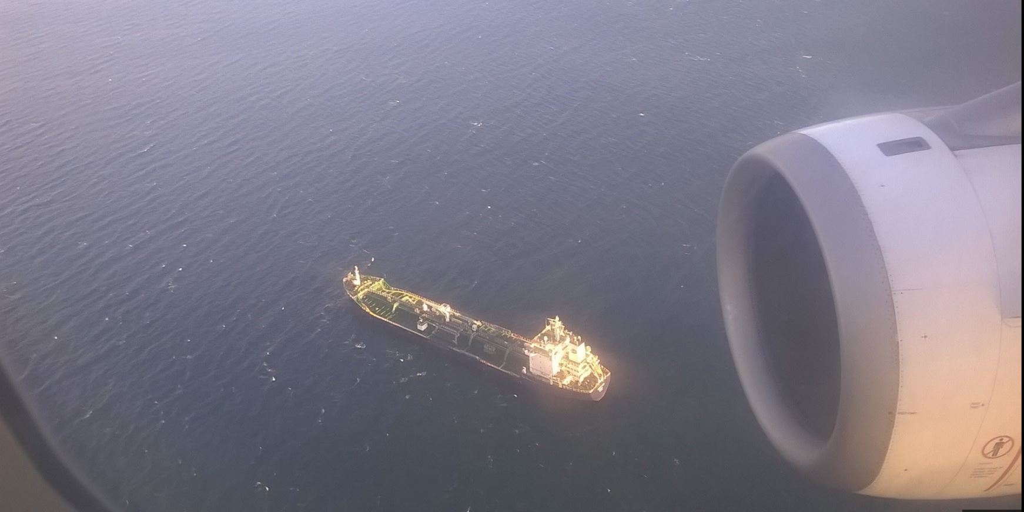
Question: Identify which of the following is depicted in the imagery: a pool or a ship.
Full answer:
I can see a ship in this picture.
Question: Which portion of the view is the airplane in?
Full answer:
The airplane sits in the right section of the image.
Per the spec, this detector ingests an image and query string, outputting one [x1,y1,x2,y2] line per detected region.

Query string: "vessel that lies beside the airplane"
[343,265,609,398]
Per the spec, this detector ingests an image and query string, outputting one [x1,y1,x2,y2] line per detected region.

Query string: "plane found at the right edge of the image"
[716,75,1024,500]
